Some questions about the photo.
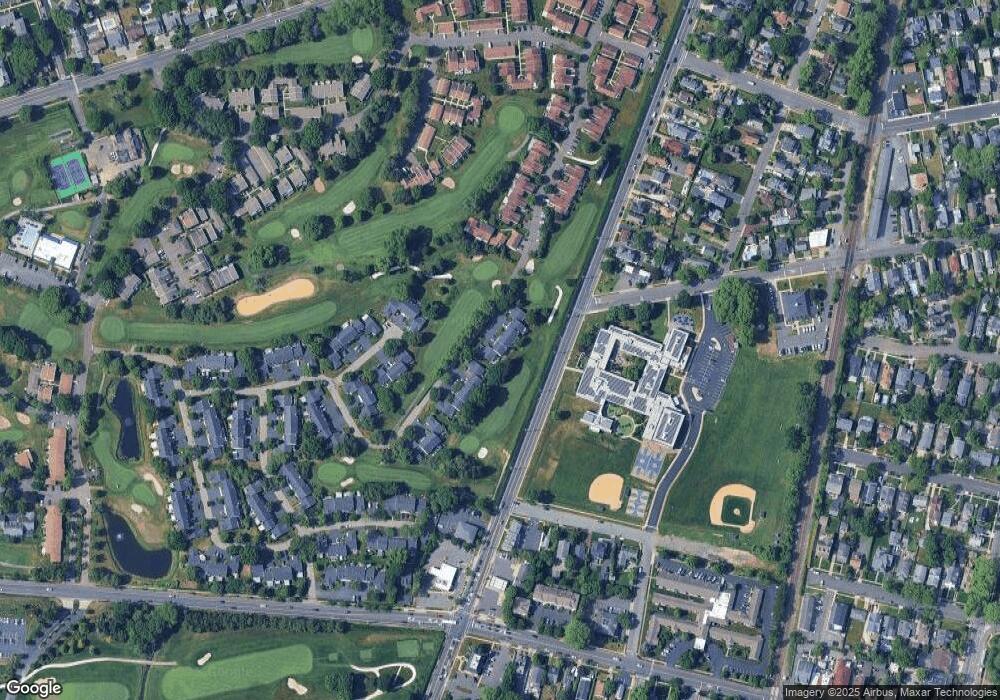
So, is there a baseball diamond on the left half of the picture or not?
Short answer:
No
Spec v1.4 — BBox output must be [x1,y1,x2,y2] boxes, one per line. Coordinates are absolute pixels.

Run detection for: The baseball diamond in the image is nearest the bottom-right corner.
[710,484,767,539]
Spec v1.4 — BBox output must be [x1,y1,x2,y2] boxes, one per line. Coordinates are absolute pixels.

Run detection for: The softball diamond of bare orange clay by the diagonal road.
[589,474,630,515]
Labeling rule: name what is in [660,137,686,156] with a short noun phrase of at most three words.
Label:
house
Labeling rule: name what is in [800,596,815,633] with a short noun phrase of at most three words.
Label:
building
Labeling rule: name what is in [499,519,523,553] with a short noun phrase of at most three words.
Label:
building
